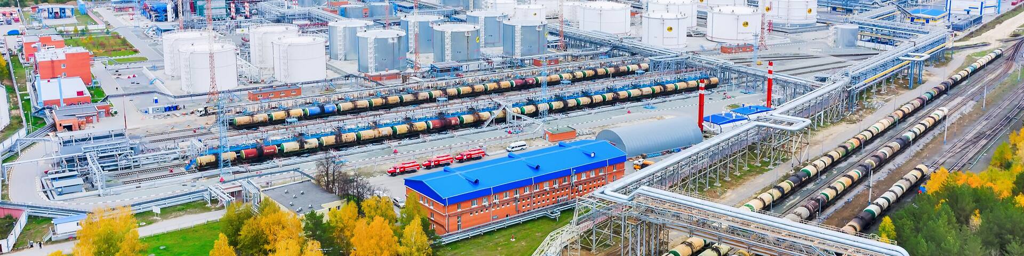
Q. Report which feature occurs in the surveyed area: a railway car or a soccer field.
railway car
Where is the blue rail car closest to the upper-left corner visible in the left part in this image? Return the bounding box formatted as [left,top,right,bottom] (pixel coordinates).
[305,101,340,119]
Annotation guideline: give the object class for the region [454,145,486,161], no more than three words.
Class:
vehicle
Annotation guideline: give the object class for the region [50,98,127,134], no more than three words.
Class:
building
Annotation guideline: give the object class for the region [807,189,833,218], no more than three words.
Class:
rail car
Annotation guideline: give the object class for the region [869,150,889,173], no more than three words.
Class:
rail car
